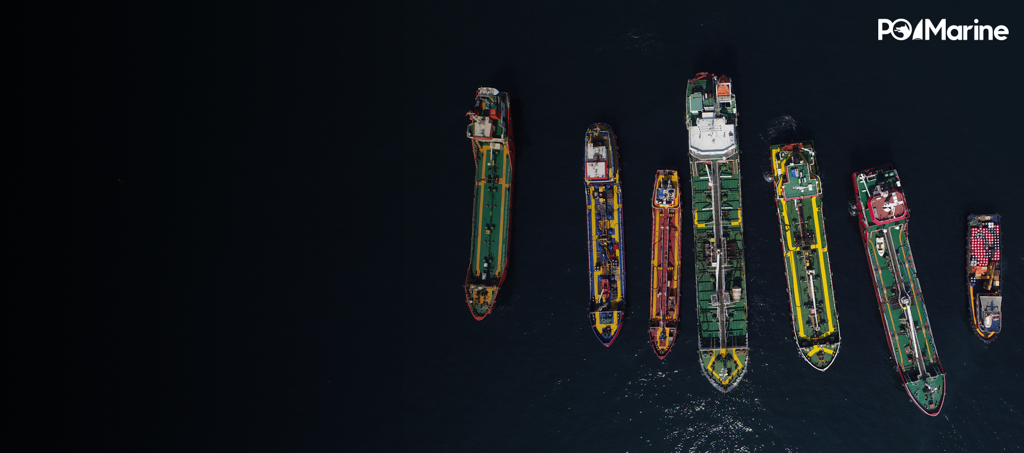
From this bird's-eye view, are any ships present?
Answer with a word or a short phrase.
Yes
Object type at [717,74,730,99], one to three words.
boat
